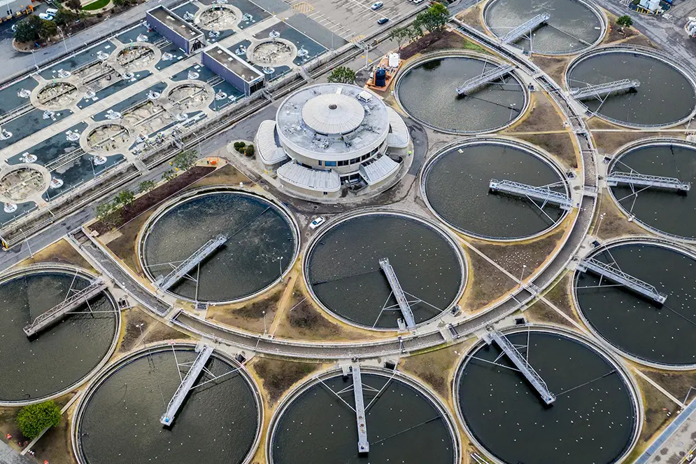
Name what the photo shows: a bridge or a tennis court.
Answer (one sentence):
There is a bridge in the scene.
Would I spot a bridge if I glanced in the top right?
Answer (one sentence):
Yes, the scene does show a bridge in the top right.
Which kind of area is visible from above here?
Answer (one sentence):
The picture captures an industrial area.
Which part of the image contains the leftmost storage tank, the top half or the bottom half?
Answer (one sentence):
The leftmost storage tank is in the bottom half of the image.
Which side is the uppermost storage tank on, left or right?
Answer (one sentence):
You can find the uppermost storage tank on the right side of the picture.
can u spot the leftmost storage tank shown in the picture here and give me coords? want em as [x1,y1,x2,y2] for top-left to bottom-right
[0,263,129,408]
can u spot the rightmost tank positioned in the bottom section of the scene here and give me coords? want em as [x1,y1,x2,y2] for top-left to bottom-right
[561,230,696,367]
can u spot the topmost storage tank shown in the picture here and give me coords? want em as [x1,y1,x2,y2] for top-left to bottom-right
[482,0,607,58]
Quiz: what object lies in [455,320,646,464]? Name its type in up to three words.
storage tank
